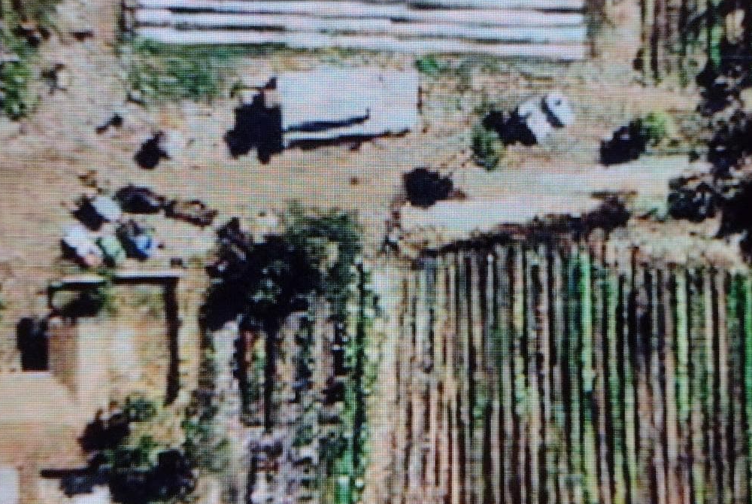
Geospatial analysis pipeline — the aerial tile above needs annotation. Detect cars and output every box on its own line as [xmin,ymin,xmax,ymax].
[543,88,572,126]
[86,190,123,226]
[59,223,96,261]
[96,233,126,269]
[115,187,160,211]
[121,223,156,261]
[518,94,555,142]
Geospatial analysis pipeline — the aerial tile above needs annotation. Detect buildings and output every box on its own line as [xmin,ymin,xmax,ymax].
[0,320,109,504]
[281,69,418,148]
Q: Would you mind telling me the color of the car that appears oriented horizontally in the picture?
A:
black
